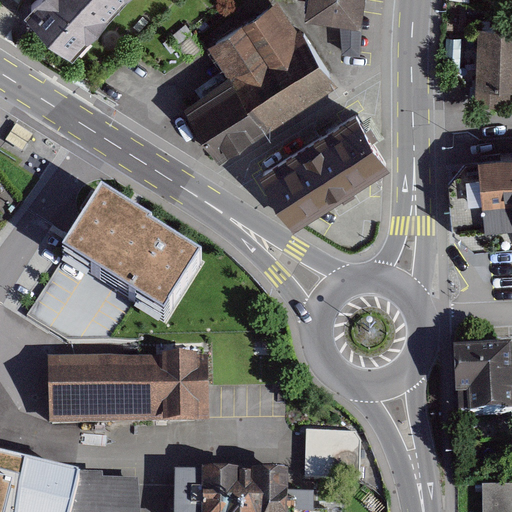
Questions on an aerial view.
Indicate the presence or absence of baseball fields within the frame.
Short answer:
No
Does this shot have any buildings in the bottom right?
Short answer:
Yes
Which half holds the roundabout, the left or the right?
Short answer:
right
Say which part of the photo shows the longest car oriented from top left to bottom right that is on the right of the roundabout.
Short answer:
right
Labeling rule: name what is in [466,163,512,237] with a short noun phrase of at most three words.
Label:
house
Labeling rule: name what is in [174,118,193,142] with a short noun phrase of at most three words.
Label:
car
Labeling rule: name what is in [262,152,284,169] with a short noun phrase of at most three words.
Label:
car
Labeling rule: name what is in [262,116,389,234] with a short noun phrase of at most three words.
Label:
building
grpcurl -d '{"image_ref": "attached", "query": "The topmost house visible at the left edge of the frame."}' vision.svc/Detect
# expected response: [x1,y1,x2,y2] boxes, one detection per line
[24,0,134,62]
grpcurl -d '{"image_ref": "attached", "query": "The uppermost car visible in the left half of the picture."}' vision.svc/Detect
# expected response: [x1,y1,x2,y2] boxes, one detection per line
[132,64,149,80]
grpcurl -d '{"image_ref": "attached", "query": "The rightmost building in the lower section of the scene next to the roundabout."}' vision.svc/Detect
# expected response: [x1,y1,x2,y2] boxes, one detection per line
[454,339,512,418]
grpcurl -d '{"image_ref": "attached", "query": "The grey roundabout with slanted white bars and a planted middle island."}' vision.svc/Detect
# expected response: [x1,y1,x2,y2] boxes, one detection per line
[302,262,439,400]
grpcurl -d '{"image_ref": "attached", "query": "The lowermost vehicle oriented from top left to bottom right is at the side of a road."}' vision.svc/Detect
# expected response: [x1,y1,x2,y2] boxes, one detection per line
[294,301,313,324]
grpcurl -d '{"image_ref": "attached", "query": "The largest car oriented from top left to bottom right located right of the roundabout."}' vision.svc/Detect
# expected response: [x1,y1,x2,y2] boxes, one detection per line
[447,247,467,270]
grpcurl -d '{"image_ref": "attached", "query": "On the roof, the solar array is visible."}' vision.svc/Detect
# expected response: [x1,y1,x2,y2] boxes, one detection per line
[54,384,151,415]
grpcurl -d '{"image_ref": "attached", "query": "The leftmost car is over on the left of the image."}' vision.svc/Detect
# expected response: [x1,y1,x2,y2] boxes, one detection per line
[15,284,36,296]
